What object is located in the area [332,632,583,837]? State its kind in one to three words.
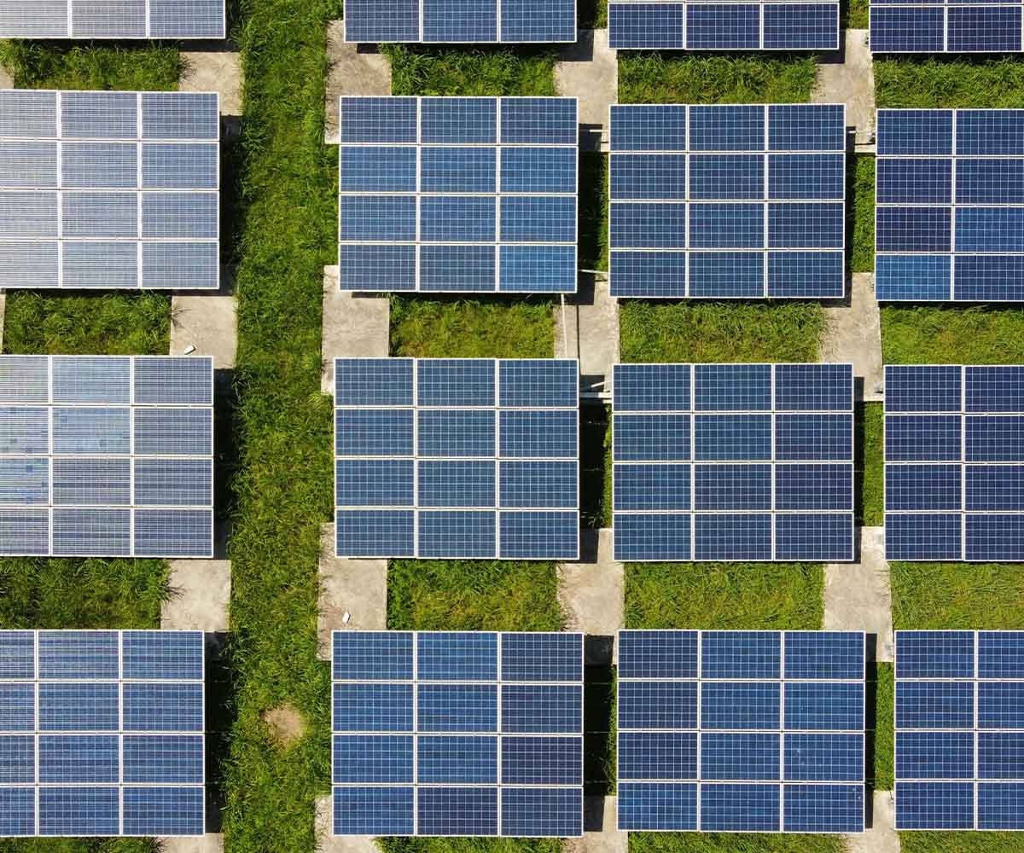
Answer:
solar array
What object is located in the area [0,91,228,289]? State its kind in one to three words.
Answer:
solar array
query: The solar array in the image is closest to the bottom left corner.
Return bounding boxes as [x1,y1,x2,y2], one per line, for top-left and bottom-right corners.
[0,631,214,837]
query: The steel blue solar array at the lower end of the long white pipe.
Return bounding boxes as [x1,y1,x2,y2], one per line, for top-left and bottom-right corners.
[335,359,578,559]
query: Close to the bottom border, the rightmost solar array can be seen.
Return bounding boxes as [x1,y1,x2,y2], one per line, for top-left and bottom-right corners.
[885,630,1024,831]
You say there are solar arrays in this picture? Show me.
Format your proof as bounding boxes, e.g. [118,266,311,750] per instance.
[865,0,1024,53]
[608,0,839,50]
[0,357,222,557]
[874,365,1024,561]
[612,364,854,562]
[617,629,865,832]
[344,0,578,45]
[332,632,583,837]
[885,630,1024,831]
[339,97,578,292]
[608,104,845,298]
[0,91,228,289]
[867,109,1024,301]
[0,0,230,39]
[335,359,578,559]
[0,631,214,837]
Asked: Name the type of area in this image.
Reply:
solar farm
